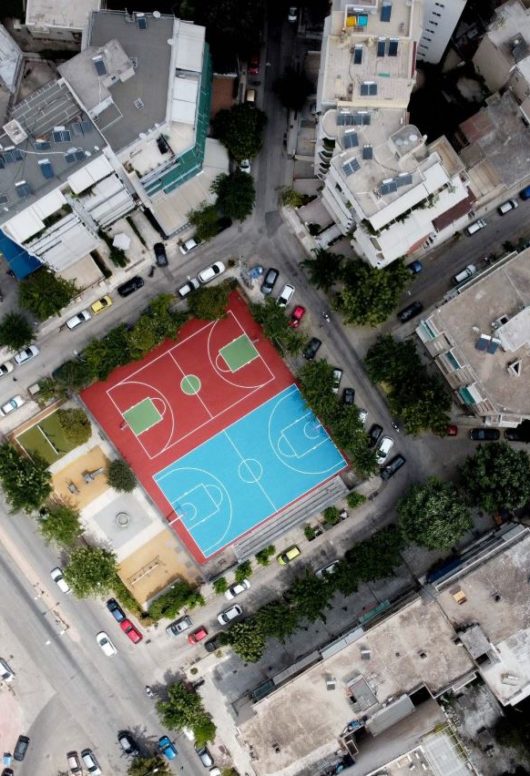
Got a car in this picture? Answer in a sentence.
Yes, a car is visible in the scene.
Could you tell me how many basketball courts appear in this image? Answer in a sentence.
Altogether the scene contains 2 basketball courts.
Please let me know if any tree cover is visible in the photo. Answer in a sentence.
Yes, tree cover shows up in the scene.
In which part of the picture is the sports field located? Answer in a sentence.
You can find the sports field in the left area of the picture.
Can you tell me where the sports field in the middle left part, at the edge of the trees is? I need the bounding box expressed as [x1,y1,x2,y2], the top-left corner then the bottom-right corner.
[16,408,86,468]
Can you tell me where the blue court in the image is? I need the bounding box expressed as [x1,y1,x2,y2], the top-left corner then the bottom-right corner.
[153,385,347,556]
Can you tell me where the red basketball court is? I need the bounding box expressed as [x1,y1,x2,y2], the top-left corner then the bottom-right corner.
[80,292,349,564]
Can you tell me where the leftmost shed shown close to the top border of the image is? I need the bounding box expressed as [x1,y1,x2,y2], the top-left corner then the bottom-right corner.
[0,23,37,103]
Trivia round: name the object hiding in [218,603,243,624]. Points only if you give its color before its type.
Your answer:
white car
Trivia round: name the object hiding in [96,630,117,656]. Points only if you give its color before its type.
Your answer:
white car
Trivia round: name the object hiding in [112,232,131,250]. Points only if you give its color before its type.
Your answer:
white umbrella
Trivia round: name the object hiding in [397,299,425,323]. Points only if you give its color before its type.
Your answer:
black car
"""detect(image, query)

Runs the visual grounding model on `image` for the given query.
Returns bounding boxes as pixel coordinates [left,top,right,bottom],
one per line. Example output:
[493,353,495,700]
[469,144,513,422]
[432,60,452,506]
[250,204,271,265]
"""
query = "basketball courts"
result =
[80,292,349,564]
[153,385,347,556]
